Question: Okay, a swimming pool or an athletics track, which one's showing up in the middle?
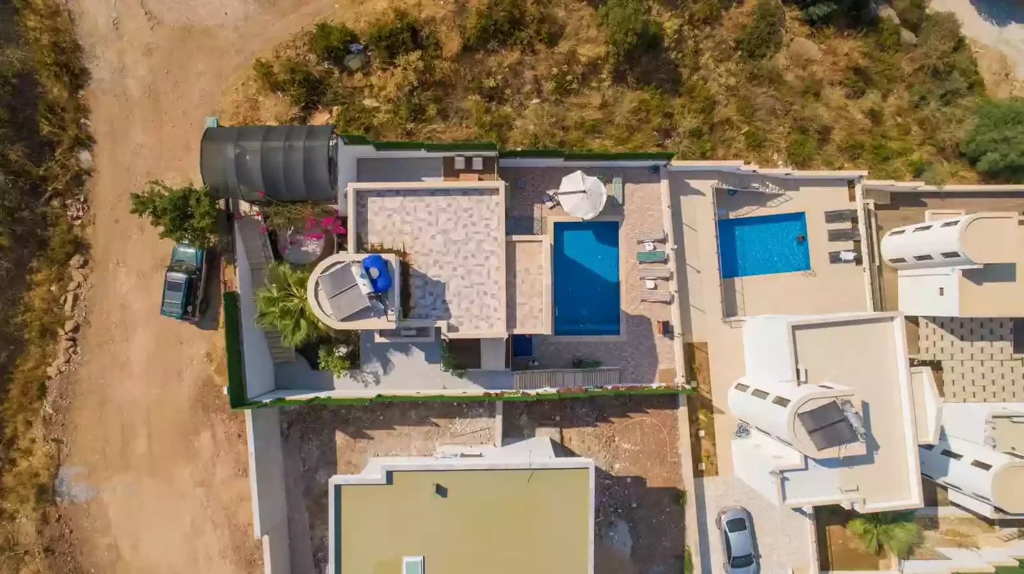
swimming pool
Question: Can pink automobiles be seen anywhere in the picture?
No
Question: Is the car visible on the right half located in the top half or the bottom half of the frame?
bottom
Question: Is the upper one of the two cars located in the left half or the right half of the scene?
left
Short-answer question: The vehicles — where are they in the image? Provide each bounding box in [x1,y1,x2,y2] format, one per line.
[157,241,213,327]
[720,507,764,574]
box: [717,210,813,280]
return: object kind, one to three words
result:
swimming pool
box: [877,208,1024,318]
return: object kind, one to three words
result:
house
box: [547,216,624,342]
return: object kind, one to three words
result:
swimming pool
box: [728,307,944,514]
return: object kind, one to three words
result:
house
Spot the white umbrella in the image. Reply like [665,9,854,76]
[557,168,609,221]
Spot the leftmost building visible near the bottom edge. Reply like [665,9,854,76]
[328,429,594,574]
